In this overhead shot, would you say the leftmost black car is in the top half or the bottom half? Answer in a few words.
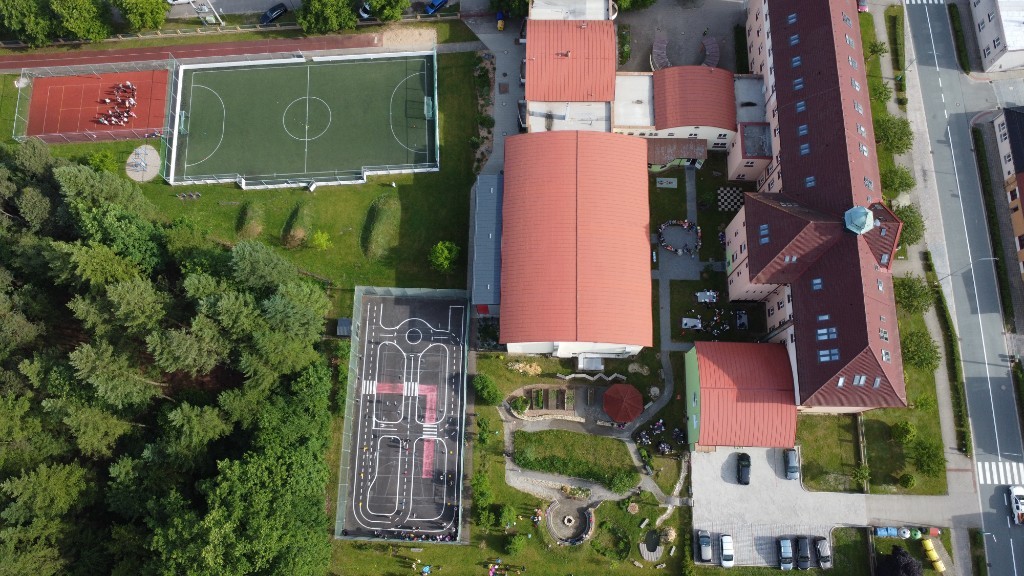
top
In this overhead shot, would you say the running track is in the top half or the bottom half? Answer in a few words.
top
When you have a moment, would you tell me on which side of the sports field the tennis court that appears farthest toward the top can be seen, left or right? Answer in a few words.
to its left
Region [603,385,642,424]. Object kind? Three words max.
gazebo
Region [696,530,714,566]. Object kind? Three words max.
car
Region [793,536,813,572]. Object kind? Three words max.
car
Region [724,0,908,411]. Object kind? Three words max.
building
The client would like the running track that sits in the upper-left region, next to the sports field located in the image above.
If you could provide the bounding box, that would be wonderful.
[0,31,382,69]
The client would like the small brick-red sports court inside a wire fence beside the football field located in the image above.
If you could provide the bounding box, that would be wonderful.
[10,54,180,145]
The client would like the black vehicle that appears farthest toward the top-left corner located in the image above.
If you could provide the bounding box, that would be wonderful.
[260,5,287,25]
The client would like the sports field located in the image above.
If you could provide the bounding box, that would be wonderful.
[163,44,439,190]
